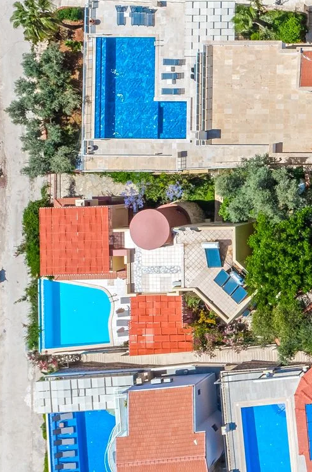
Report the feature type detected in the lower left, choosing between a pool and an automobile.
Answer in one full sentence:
What appears in the lower left is a pool.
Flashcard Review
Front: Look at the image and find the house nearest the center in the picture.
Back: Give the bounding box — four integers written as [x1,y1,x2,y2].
[53,193,259,323]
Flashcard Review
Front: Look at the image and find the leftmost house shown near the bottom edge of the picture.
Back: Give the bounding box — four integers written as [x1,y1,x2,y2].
[102,363,234,472]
